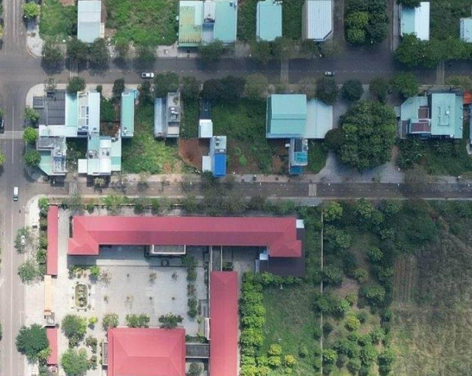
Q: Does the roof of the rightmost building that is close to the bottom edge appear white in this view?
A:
No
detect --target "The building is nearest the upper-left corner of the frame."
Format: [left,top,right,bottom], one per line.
[75,0,105,44]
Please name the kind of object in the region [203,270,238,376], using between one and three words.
building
